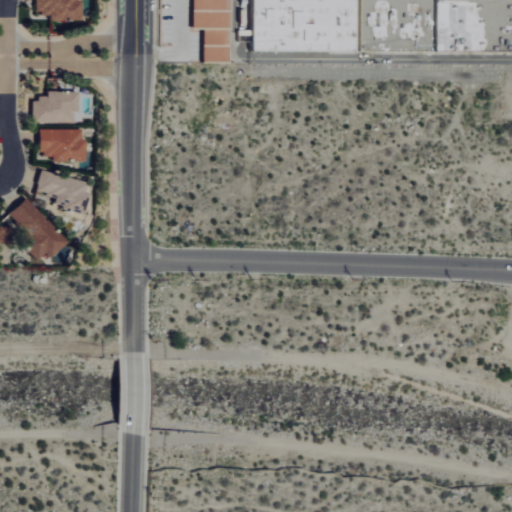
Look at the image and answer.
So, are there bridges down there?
Yes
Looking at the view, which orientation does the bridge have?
from top to bottom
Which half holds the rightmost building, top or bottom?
top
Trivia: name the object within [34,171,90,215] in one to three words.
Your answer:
house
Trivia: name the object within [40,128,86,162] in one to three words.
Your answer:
house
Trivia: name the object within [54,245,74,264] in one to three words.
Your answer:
swimming pool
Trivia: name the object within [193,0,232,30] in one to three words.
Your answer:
building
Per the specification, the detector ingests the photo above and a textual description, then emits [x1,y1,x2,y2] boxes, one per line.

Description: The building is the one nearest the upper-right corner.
[434,0,512,52]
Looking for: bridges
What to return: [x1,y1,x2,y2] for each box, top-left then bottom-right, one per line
[120,352,151,434]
